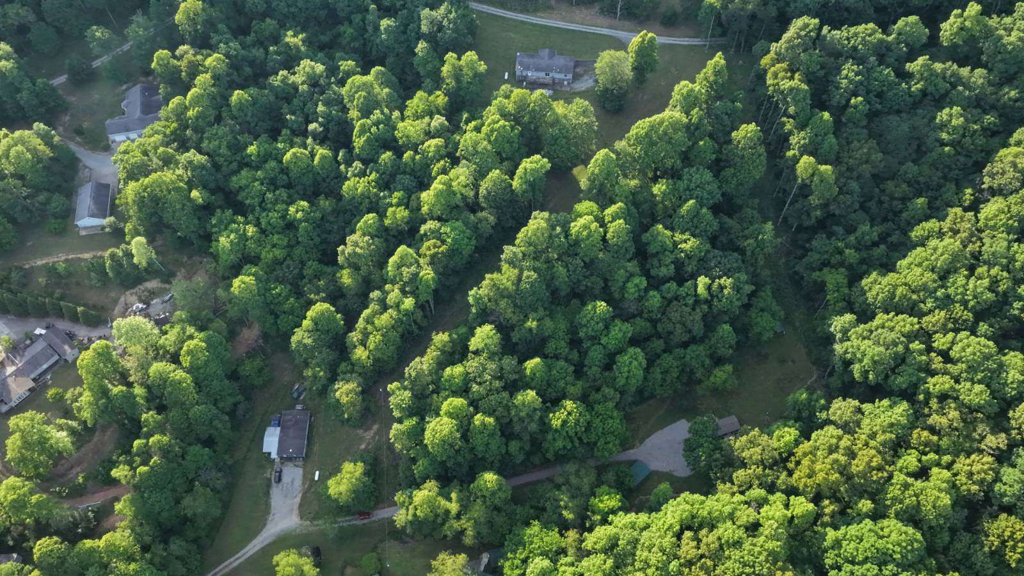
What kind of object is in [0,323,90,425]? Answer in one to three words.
house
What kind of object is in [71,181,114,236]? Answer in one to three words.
building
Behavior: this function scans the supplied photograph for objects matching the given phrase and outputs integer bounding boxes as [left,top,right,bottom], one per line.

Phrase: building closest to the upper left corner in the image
[103,78,164,133]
